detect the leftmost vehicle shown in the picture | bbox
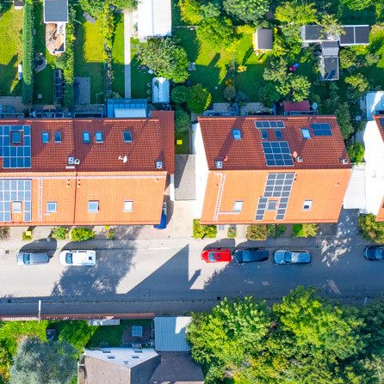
[17,250,51,266]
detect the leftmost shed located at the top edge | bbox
[43,0,69,24]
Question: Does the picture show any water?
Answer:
No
